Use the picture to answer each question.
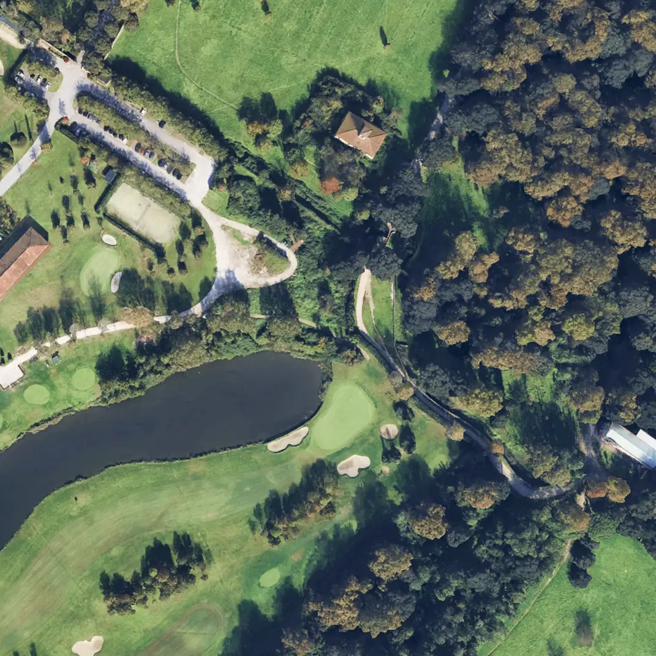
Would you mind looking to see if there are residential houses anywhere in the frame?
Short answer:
Yes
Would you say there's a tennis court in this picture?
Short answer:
Yes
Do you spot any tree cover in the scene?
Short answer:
Yes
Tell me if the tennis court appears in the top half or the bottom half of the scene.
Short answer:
top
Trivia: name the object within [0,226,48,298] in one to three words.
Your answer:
barn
